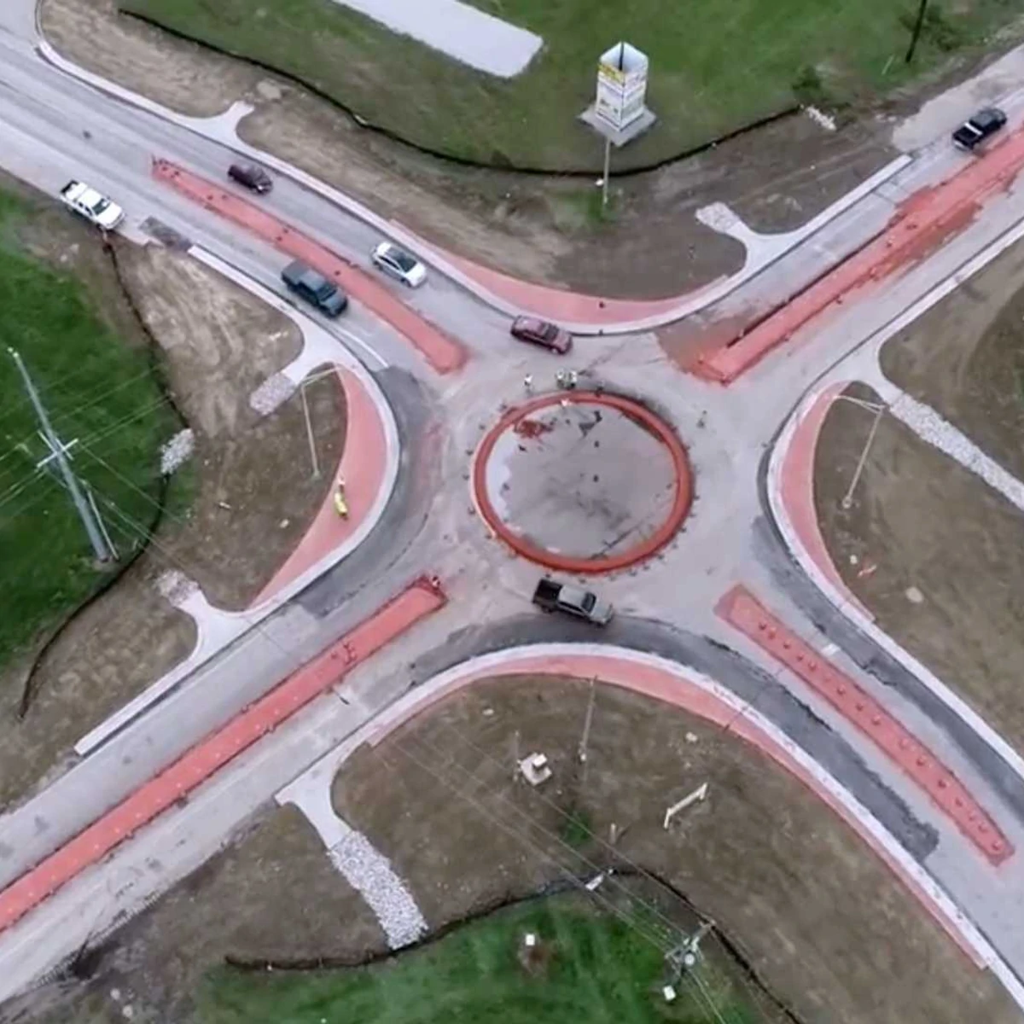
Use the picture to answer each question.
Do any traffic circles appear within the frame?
Yes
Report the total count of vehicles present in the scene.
seven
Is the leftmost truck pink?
No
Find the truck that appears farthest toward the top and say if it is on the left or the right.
right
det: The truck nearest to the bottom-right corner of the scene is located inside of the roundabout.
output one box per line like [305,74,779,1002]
[528,574,618,629]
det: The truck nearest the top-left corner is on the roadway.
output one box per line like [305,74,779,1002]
[58,174,130,230]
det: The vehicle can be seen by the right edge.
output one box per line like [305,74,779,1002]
[952,108,1013,152]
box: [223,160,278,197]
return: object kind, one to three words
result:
car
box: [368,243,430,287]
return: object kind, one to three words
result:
car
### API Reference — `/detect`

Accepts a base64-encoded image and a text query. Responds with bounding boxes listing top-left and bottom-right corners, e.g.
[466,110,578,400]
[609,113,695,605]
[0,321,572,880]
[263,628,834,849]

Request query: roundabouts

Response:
[393,335,771,640]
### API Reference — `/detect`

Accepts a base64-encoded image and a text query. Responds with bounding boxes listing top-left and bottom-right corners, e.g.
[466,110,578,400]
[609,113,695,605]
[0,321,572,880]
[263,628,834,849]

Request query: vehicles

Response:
[952,108,1013,152]
[223,160,278,197]
[58,174,130,230]
[368,243,430,287]
[279,256,351,316]
[509,316,574,358]
[528,574,618,629]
